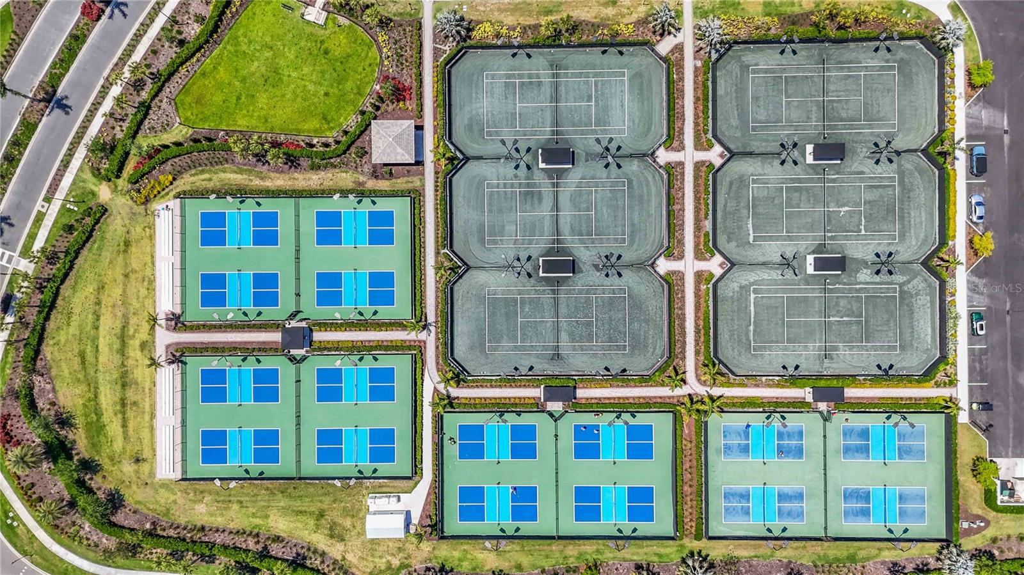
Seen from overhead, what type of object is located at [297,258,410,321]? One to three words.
sports court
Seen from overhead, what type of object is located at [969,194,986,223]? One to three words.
car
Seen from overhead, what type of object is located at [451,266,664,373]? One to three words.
tennis court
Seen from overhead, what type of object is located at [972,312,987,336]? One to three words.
car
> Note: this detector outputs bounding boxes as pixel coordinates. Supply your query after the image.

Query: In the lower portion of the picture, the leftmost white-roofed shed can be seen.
[363,510,407,540]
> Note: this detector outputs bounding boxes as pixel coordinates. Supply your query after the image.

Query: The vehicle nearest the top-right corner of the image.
[970,146,988,175]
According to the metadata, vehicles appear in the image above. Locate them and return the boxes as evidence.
[970,146,988,175]
[969,194,986,223]
[972,312,987,336]
[970,402,995,411]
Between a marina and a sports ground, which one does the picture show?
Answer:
sports ground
